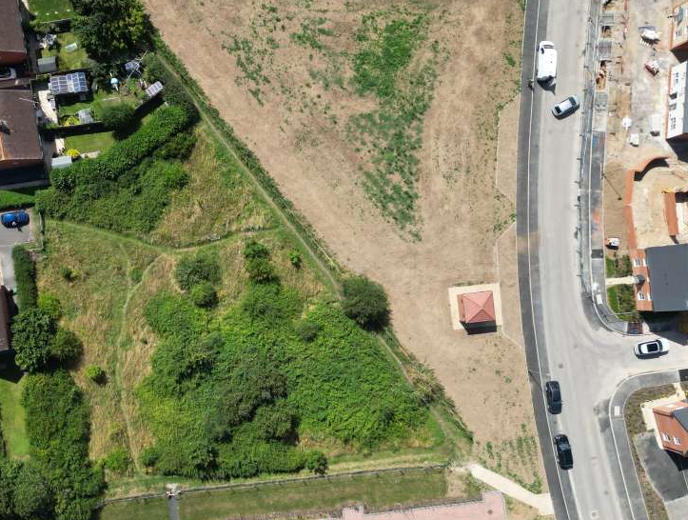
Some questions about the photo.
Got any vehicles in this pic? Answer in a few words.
Yes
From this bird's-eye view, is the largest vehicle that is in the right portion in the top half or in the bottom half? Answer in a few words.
top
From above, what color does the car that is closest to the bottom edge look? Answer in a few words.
black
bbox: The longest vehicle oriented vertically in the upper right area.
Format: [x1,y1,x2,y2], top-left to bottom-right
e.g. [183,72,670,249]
[534,42,556,87]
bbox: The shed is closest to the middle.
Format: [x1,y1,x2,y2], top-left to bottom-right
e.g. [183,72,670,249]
[459,290,498,324]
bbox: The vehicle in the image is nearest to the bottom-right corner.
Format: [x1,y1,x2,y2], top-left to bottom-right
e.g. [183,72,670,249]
[552,433,573,469]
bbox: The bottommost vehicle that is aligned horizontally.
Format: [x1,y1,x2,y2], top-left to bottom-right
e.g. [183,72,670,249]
[632,338,668,357]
